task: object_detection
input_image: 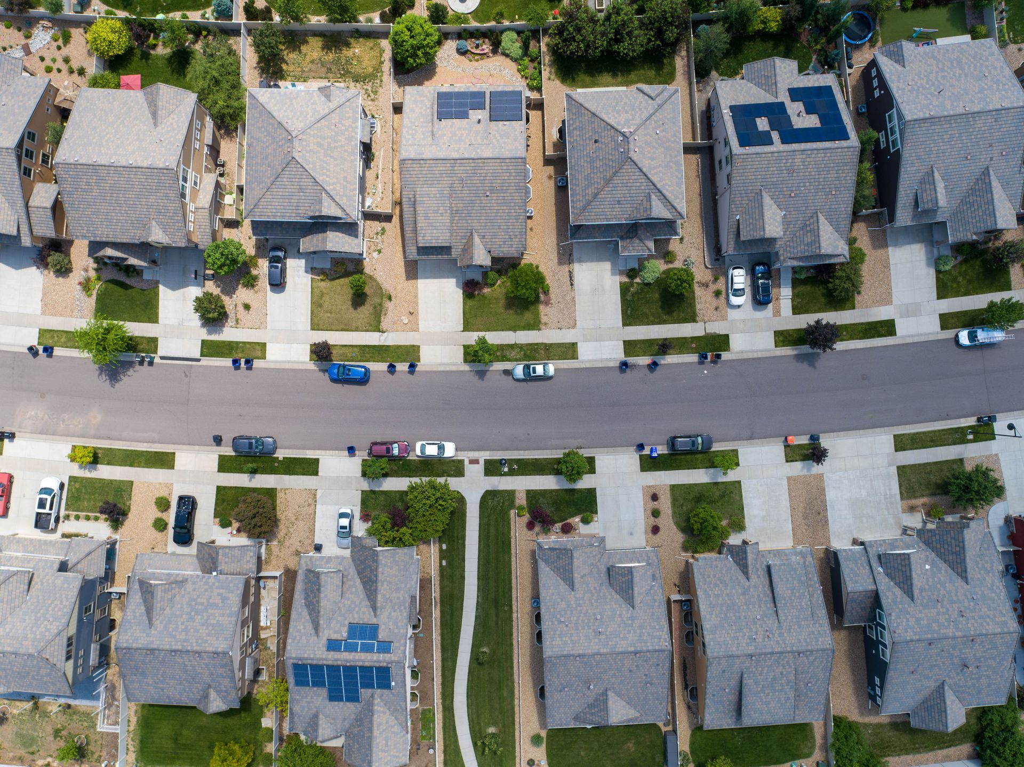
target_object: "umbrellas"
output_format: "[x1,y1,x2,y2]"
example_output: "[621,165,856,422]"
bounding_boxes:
[59,83,80,109]
[123,75,142,90]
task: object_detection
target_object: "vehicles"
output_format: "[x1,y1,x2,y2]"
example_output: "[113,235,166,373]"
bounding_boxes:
[231,435,278,456]
[954,327,1007,348]
[725,265,747,305]
[750,262,773,306]
[334,506,354,549]
[328,362,371,382]
[266,245,288,287]
[35,476,65,531]
[512,362,555,382]
[172,492,198,546]
[666,432,712,453]
[0,470,14,519]
[415,440,456,460]
[367,440,410,460]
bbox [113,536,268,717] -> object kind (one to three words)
house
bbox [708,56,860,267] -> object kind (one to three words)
house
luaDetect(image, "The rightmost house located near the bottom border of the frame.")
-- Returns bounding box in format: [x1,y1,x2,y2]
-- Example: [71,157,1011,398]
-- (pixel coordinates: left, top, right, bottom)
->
[829,512,1024,737]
